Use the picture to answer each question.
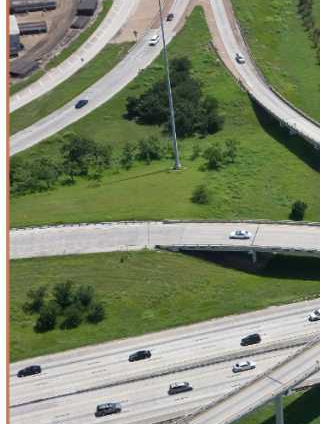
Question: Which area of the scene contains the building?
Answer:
top left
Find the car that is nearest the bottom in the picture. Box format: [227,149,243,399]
[95,403,120,416]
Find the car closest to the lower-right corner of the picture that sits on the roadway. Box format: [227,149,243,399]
[232,361,255,373]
